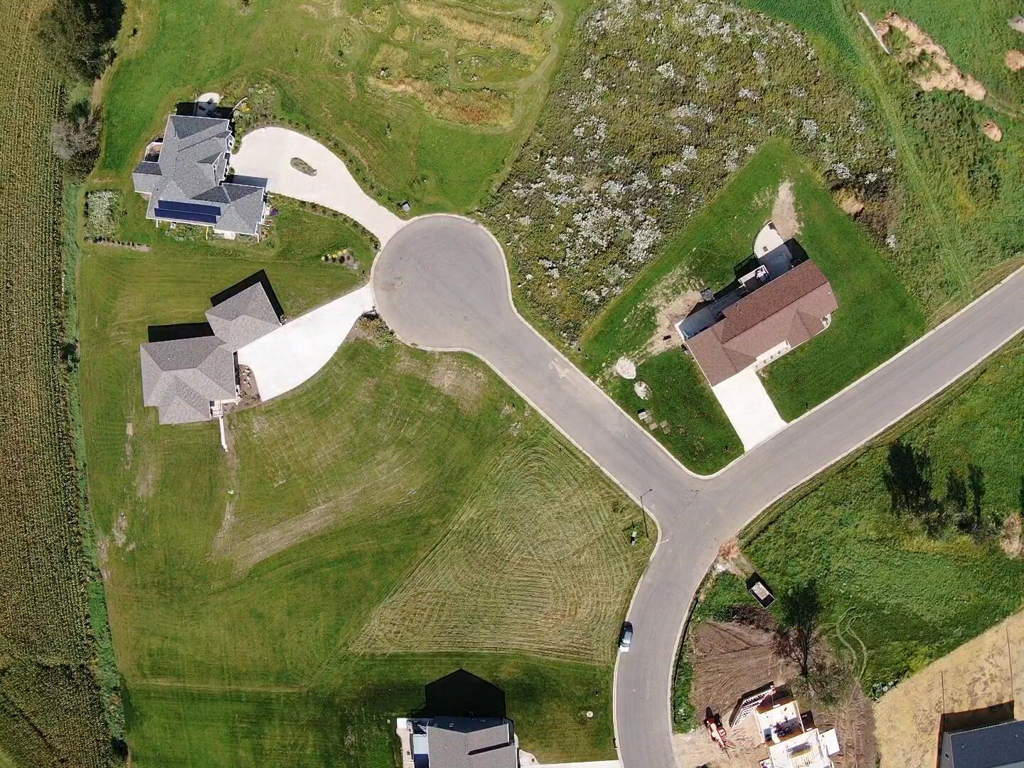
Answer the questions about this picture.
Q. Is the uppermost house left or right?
left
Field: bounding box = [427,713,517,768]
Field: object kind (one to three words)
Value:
house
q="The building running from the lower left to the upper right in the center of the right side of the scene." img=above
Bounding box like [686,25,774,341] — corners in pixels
[684,259,838,387]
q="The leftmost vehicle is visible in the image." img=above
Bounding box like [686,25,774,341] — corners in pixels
[618,624,631,649]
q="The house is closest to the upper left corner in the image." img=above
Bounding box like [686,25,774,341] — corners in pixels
[133,115,271,243]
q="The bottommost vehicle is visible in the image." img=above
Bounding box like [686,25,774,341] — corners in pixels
[709,720,731,755]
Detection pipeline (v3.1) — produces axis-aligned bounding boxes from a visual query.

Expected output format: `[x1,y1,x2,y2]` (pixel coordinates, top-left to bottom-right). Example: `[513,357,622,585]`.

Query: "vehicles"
[618,624,631,649]
[709,720,731,755]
